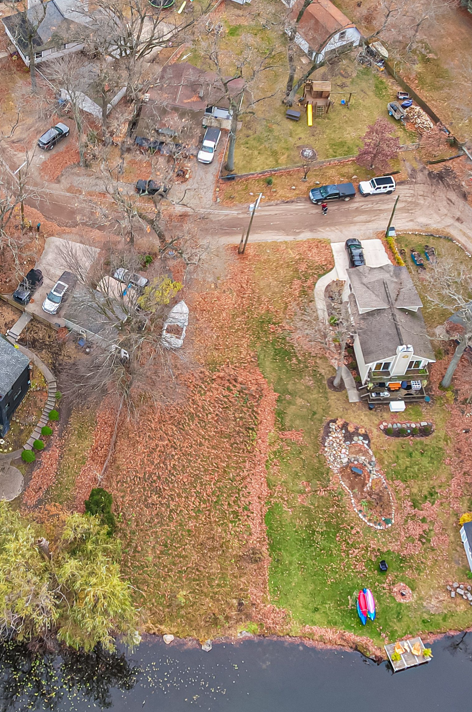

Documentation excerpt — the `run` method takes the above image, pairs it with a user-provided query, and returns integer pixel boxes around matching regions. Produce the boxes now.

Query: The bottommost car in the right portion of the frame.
[345,237,366,270]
